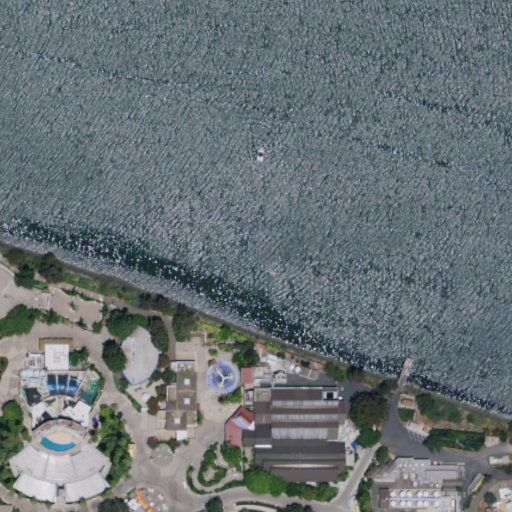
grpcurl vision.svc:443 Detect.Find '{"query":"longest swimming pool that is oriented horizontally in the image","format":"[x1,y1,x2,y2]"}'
[40,438,76,452]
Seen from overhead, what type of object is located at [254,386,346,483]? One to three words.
building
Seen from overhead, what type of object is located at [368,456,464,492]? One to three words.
building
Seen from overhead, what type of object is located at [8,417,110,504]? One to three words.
stadium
